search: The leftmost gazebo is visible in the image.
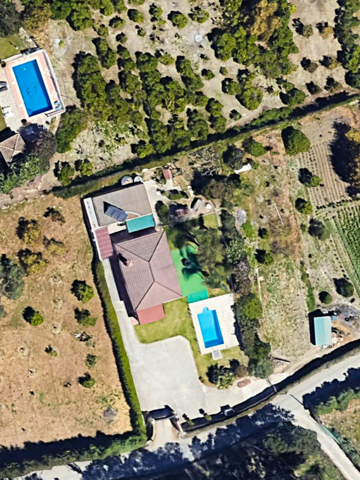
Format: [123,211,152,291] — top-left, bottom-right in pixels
[0,134,26,166]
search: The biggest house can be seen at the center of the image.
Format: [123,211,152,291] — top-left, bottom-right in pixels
[115,230,183,324]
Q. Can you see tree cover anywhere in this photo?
Yes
